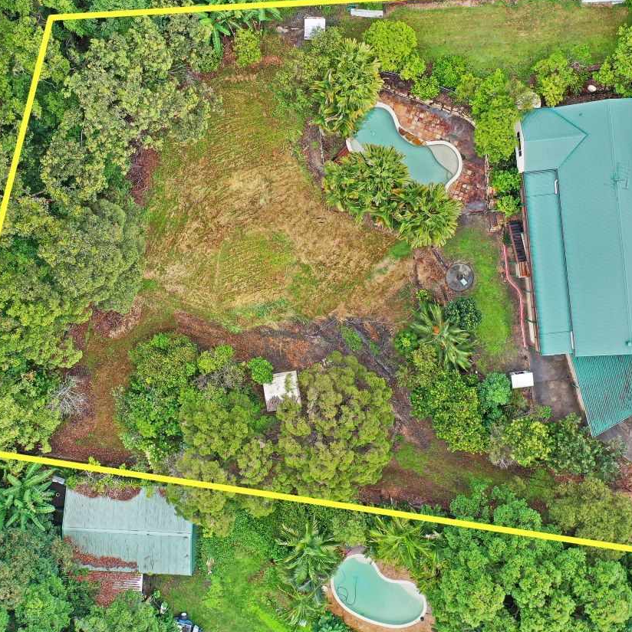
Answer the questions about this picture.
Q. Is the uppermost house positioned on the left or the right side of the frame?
right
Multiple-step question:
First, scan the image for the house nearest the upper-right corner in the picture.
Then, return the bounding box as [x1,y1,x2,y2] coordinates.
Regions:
[508,97,632,355]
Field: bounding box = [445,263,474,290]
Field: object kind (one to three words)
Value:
water tank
